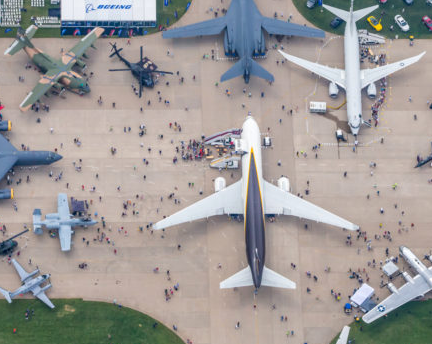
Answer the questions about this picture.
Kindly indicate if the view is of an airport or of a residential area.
airport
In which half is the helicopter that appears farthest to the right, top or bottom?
top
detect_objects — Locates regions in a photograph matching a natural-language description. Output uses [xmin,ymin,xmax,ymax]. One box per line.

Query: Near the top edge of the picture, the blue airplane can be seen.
[163,0,325,85]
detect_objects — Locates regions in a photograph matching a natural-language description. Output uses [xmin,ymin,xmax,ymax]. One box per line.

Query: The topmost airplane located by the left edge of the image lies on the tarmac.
[8,20,109,107]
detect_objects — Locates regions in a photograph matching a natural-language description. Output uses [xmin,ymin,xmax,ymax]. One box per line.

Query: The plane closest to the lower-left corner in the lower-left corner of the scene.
[0,261,53,308]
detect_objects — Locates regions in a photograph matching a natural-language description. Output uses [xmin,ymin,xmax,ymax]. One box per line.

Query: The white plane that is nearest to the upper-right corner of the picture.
[278,0,426,135]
